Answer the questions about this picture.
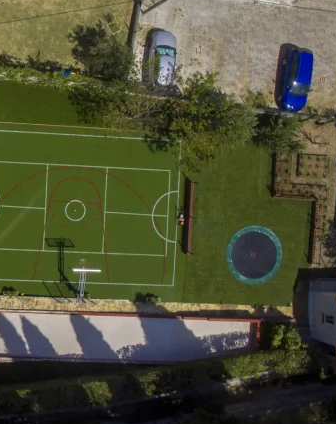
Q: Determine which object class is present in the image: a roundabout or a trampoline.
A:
trampoline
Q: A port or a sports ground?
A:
sports ground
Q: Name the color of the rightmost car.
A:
blue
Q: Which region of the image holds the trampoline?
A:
right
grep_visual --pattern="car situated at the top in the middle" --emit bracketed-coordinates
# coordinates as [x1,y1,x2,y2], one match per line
[146,26,183,88]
